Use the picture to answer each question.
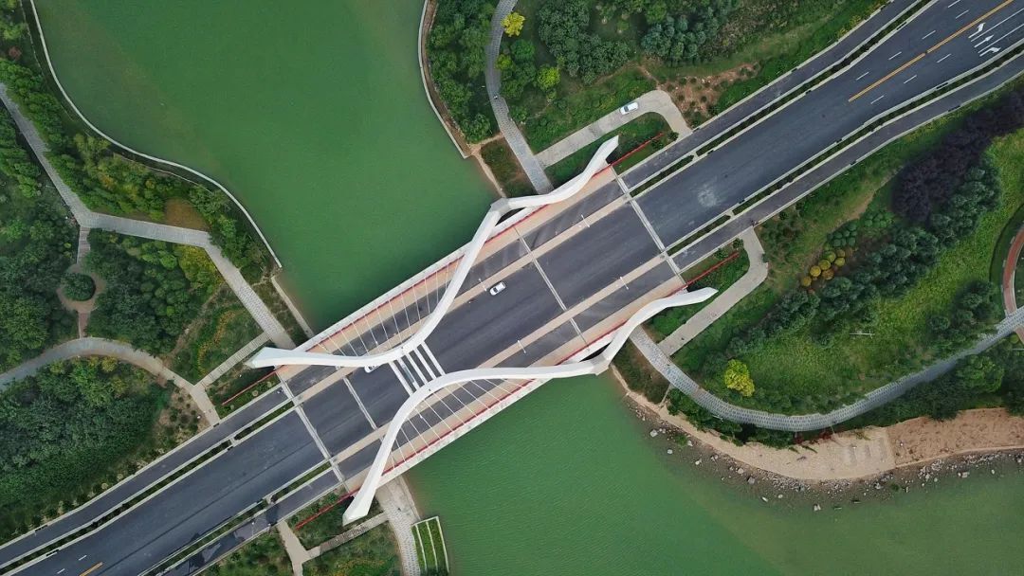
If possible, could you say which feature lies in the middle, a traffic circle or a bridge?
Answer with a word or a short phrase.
bridge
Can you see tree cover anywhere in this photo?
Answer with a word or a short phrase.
Yes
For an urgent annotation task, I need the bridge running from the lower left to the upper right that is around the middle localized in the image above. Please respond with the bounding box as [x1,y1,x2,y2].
[220,131,739,529]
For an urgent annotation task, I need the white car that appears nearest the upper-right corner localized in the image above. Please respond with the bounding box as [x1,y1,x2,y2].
[620,101,638,113]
